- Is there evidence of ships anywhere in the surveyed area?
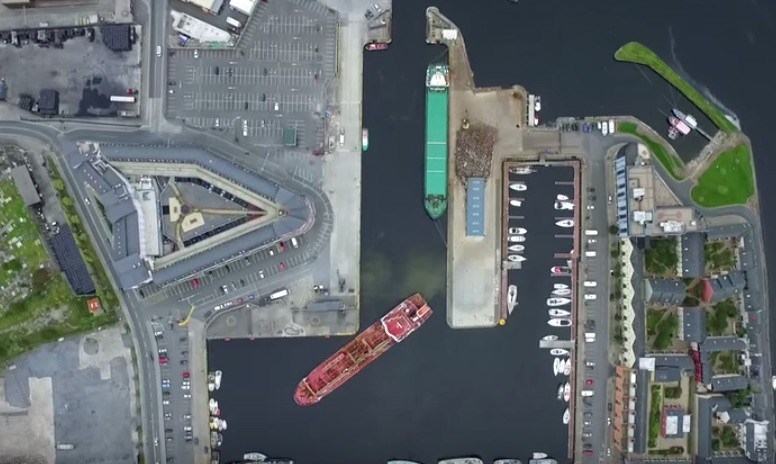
Yes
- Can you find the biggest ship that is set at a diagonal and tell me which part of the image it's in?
bottom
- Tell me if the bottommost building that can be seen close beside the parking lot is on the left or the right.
left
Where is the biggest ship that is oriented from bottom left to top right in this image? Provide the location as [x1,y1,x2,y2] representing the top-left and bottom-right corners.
[293,293,432,406]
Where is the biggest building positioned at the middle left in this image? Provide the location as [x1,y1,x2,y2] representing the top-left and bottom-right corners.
[74,141,313,290]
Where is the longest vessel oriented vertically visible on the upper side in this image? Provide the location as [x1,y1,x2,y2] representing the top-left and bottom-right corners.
[424,64,448,220]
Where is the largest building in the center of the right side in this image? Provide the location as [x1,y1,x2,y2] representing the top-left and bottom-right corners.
[616,160,695,236]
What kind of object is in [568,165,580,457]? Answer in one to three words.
pier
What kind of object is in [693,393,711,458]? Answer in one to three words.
house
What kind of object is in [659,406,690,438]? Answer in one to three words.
building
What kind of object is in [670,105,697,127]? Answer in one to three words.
boat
